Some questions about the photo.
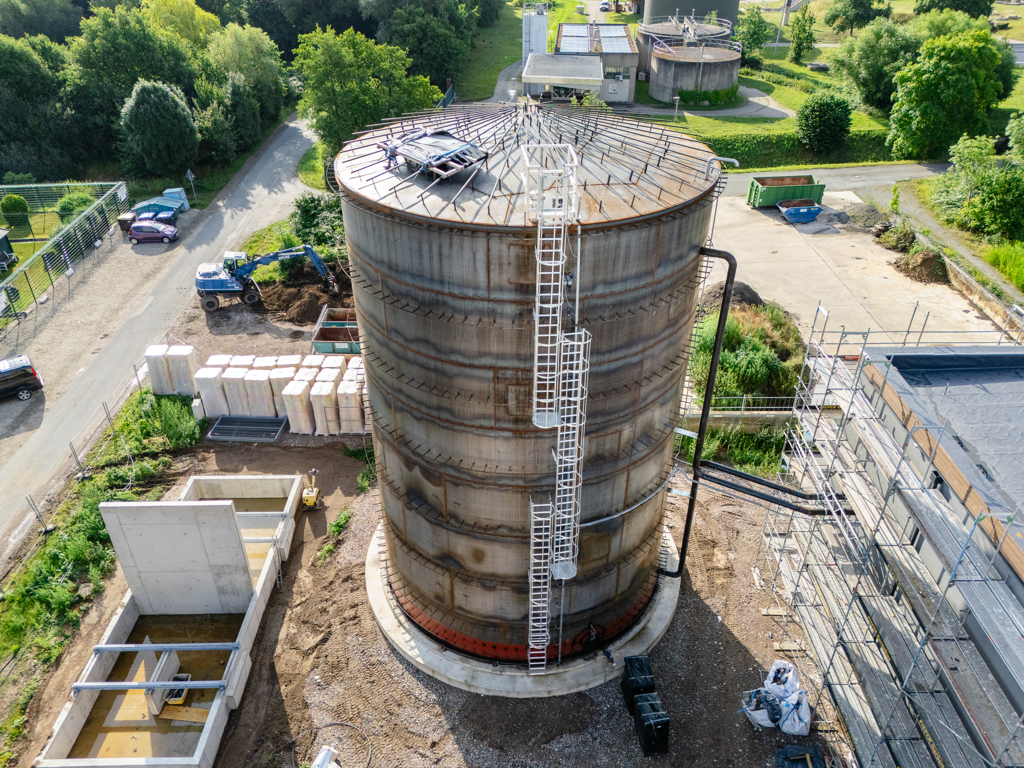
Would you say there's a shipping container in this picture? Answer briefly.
Yes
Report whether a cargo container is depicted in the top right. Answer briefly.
Yes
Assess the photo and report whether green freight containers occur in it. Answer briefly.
Yes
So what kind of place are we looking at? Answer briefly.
industrial area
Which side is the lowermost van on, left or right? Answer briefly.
left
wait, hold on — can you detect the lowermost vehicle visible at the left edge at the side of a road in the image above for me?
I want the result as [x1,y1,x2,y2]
[0,349,55,399]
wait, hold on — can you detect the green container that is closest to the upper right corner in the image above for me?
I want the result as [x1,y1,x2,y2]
[744,175,828,205]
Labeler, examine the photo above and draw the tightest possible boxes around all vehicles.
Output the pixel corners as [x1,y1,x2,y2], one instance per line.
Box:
[0,349,55,399]
[126,216,184,243]
[188,238,350,306]
[600,2,609,10]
